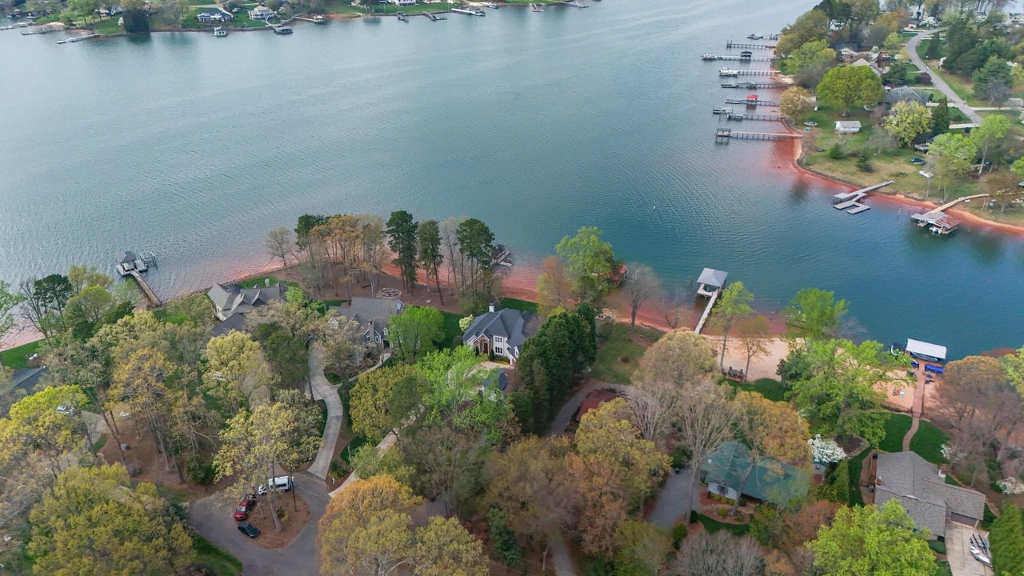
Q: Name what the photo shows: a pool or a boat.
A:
boat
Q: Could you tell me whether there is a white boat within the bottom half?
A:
Yes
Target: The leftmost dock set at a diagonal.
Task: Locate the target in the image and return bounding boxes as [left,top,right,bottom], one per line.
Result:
[115,250,166,311]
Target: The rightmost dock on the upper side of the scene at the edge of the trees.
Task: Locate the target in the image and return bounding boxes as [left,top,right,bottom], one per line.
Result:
[907,193,986,239]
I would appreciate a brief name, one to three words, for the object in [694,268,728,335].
pier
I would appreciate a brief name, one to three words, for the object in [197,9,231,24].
house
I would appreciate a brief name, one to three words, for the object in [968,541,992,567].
boat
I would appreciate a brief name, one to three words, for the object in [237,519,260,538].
car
